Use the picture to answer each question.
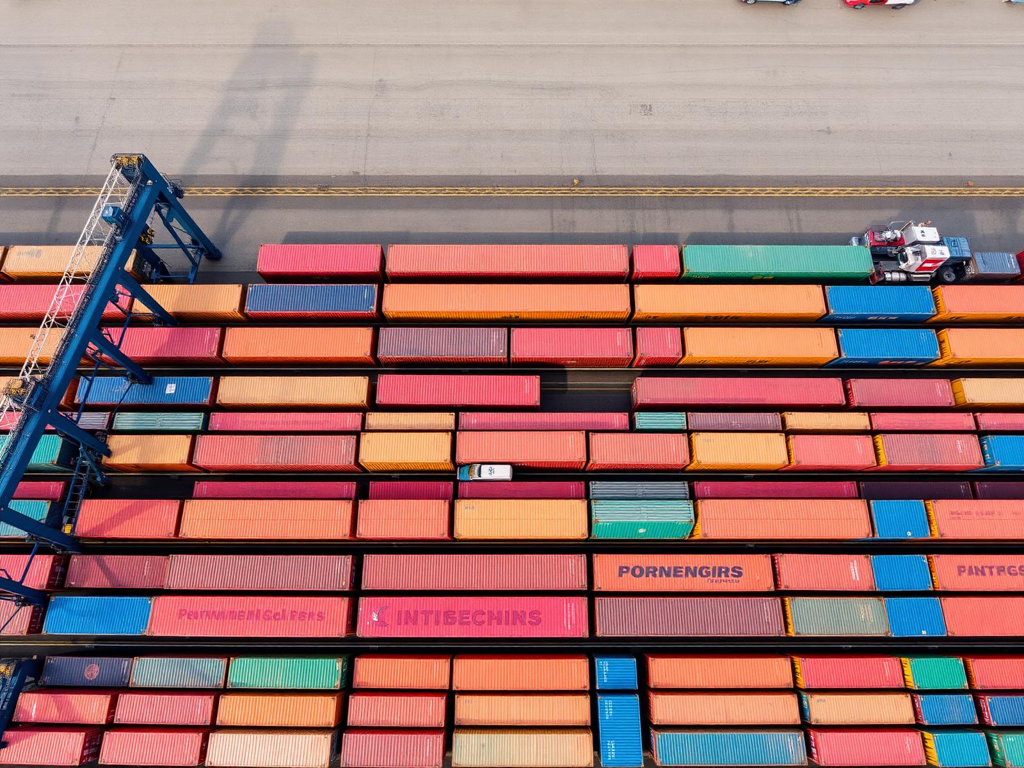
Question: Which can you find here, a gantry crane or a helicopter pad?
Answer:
gantry crane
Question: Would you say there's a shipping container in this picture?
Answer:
Yes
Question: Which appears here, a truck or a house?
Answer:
truck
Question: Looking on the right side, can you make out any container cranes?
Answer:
No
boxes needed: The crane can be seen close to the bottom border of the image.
[0,651,42,755]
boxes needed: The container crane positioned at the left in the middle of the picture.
[0,150,225,608]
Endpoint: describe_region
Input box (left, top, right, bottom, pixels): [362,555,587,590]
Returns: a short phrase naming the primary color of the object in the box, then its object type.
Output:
pink shipping container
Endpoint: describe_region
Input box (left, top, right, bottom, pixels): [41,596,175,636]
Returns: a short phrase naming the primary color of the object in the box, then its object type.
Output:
blue shipping container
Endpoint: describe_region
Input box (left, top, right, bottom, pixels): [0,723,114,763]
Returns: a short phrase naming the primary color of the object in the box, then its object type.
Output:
pink shipping container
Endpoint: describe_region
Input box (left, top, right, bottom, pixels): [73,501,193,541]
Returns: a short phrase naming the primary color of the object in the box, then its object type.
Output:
red shipping container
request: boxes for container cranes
[0,150,225,608]
[0,651,42,755]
